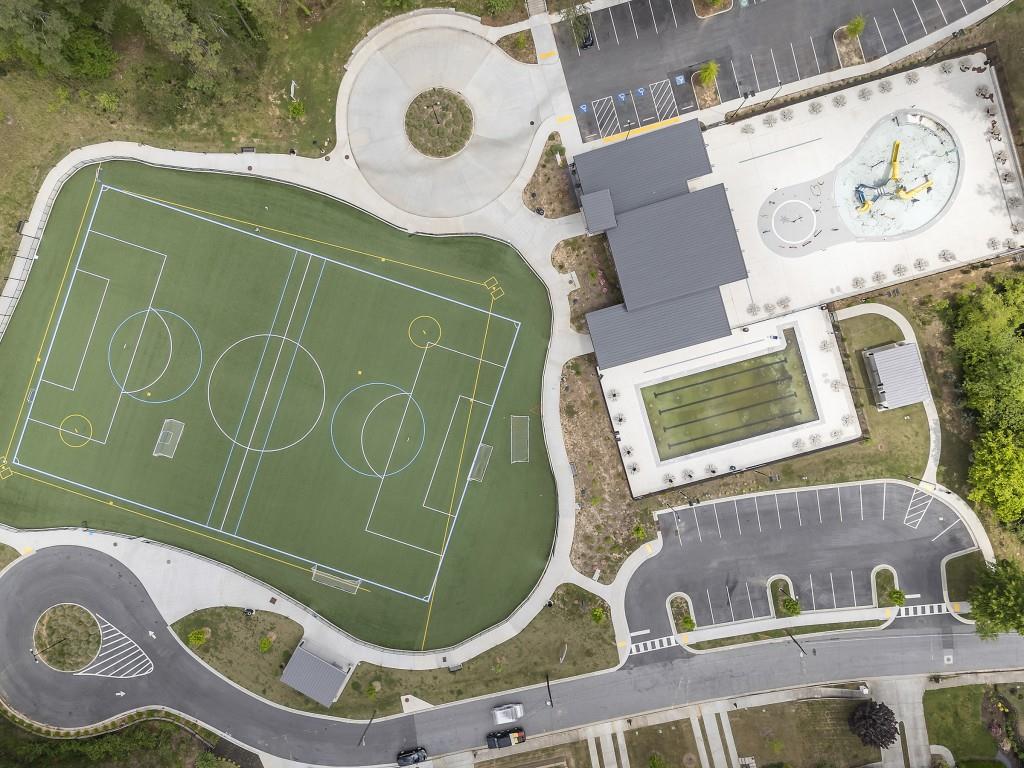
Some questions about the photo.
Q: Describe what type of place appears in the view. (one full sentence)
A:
The area seen from above is a sports ground.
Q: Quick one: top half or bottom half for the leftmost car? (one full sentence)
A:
You can find the leftmost car in the bottom half.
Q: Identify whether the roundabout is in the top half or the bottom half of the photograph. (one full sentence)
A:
The roundabout sits in the bottom half of the picture.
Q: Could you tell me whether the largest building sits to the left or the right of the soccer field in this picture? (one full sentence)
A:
Relative to the soccer field, the largest building lies to the right.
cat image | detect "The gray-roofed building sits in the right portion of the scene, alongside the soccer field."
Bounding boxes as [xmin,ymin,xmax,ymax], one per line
[571,118,748,371]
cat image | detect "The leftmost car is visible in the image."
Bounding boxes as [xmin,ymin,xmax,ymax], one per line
[396,747,426,768]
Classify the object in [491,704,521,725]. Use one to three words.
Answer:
car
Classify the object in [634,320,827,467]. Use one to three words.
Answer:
swimming pool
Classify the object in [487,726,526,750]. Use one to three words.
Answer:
truck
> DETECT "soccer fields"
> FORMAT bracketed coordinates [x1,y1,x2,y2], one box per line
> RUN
[0,158,559,652]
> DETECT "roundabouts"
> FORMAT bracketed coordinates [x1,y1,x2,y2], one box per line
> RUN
[0,545,413,766]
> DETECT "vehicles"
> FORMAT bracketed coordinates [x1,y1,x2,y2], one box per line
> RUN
[487,726,526,750]
[396,747,426,768]
[491,704,521,725]
[577,14,596,46]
